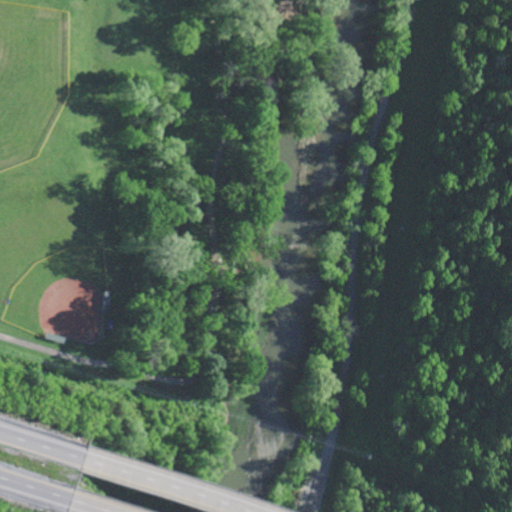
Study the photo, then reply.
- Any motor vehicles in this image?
No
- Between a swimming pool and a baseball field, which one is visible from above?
baseball field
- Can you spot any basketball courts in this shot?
No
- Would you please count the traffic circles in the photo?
0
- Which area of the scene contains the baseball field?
left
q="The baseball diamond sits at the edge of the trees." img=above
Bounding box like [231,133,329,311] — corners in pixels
[2,248,107,344]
